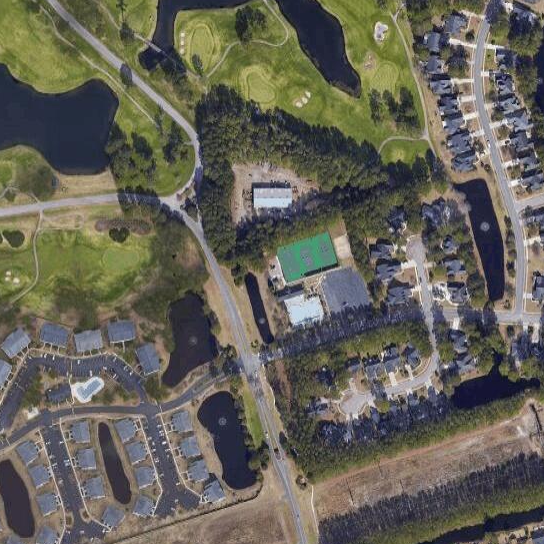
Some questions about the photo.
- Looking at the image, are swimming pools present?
Yes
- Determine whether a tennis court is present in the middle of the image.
Yes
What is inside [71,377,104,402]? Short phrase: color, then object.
white swimming pool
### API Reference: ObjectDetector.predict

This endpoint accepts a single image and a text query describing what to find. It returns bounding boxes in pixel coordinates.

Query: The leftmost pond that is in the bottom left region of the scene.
[0,459,35,537]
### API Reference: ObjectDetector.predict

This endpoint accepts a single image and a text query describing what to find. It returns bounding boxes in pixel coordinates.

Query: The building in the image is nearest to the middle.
[278,282,306,301]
